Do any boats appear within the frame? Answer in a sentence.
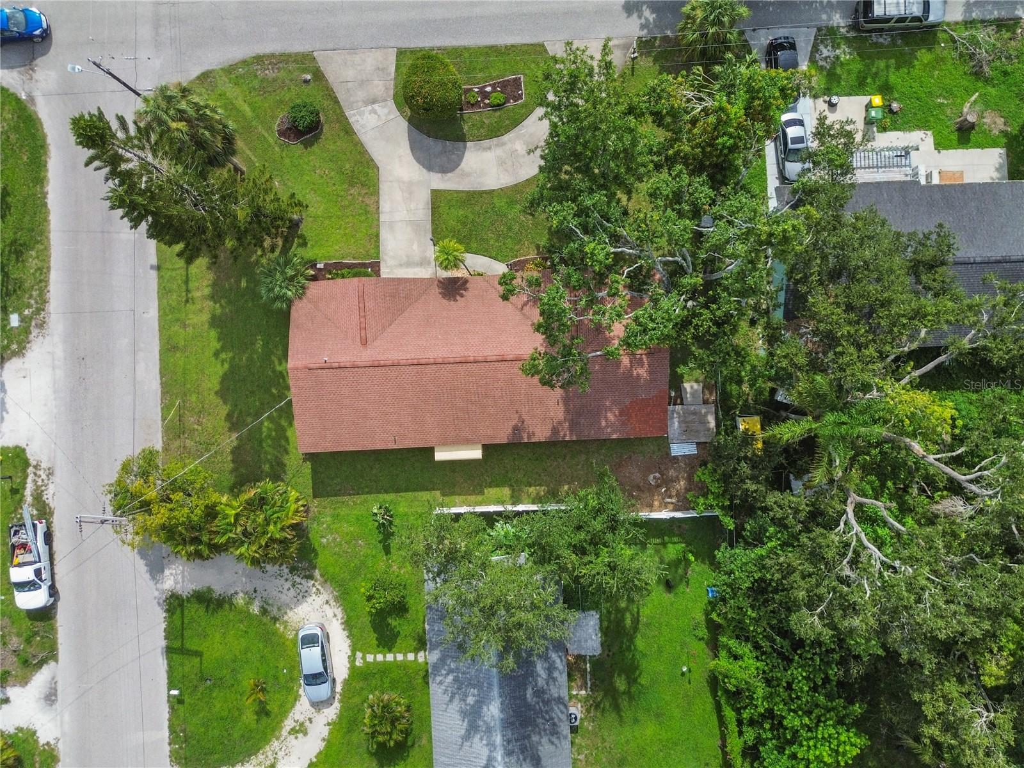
No, there's no boat here.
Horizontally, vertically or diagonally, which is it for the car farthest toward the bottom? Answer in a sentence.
What the image shows is the car farthest toward the bottom lying vertically.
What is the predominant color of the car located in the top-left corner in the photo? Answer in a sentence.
In this view, the car located in the top-left corner is blue.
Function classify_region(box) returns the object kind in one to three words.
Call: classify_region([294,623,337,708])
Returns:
car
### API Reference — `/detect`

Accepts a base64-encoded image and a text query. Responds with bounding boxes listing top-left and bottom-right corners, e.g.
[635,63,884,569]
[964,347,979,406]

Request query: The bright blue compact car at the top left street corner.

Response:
[0,2,49,48]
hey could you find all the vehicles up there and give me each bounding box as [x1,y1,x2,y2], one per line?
[0,2,49,48]
[853,0,941,32]
[775,109,811,183]
[8,516,60,608]
[294,623,337,708]
[761,31,802,86]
